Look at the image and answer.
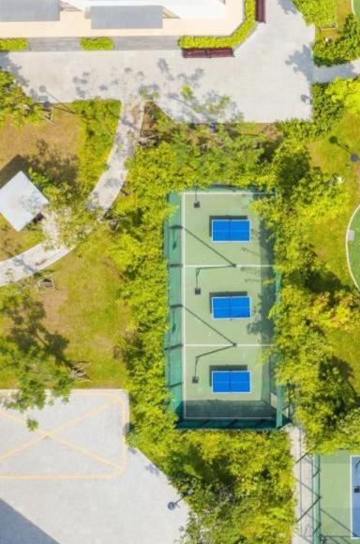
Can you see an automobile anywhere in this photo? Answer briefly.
No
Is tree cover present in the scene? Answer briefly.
Yes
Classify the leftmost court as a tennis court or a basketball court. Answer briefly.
tennis court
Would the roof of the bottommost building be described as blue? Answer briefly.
No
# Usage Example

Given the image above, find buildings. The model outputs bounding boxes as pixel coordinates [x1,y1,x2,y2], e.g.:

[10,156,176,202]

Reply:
[0,0,225,29]
[0,171,65,231]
